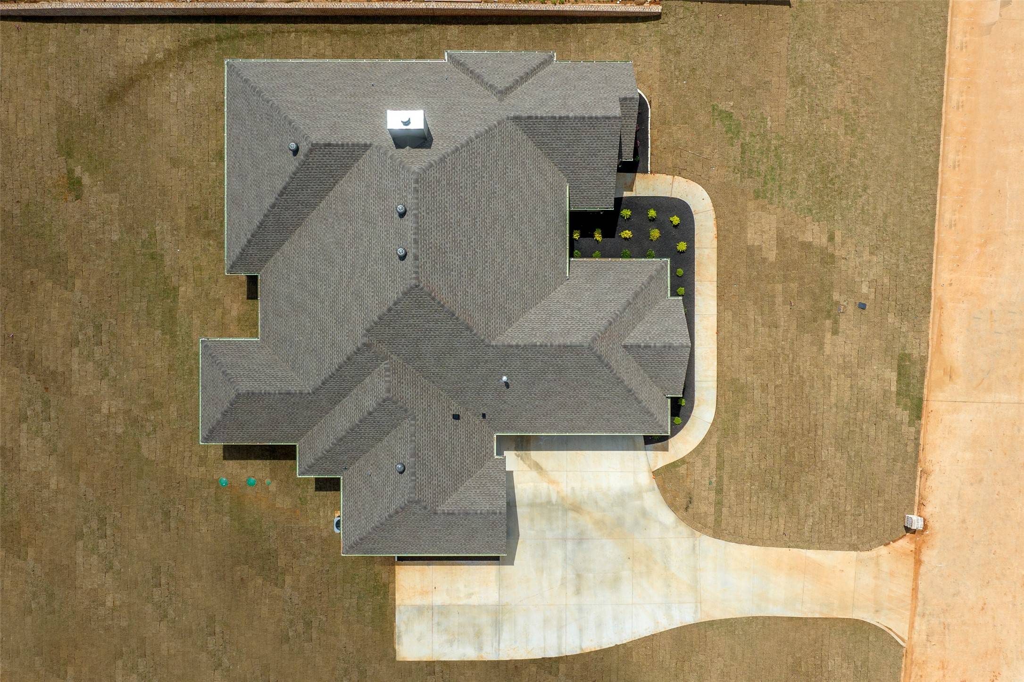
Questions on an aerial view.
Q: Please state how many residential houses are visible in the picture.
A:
1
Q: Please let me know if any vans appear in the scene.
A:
No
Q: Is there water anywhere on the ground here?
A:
No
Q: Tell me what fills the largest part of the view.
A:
grass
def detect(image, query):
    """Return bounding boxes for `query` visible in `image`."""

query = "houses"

[199,50,693,557]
